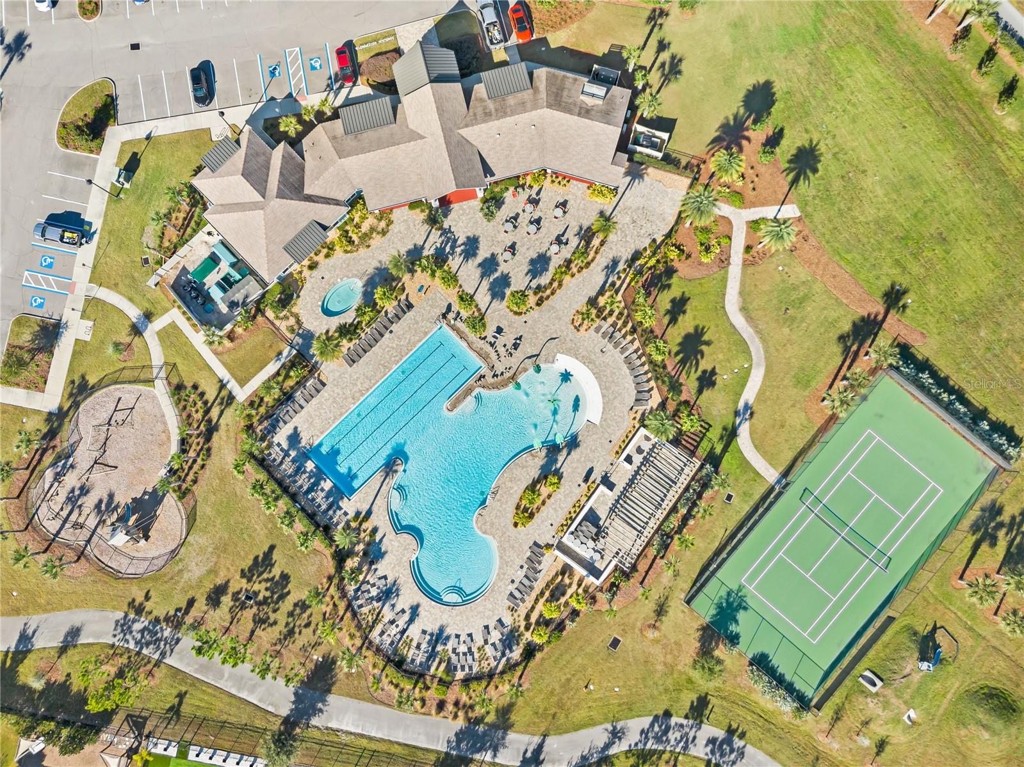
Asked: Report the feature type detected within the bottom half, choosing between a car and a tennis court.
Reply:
tennis court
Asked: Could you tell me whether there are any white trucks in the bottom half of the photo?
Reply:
No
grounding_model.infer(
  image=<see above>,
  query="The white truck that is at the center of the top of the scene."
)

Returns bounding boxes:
[478,0,505,49]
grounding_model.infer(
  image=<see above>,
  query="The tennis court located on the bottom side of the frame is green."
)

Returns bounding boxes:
[687,373,996,705]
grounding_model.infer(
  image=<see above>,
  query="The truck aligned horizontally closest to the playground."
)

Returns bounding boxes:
[33,222,84,246]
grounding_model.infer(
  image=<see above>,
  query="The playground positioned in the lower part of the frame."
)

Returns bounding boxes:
[33,385,186,575]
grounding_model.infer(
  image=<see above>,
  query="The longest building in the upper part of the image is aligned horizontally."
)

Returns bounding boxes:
[191,42,631,285]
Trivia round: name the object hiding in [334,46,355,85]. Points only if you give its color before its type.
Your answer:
red car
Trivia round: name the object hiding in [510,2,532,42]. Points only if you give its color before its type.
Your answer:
red car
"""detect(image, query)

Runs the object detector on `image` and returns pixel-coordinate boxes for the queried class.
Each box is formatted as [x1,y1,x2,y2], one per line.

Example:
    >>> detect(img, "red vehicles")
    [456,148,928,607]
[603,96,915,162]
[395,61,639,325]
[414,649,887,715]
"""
[510,2,532,42]
[334,46,355,85]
